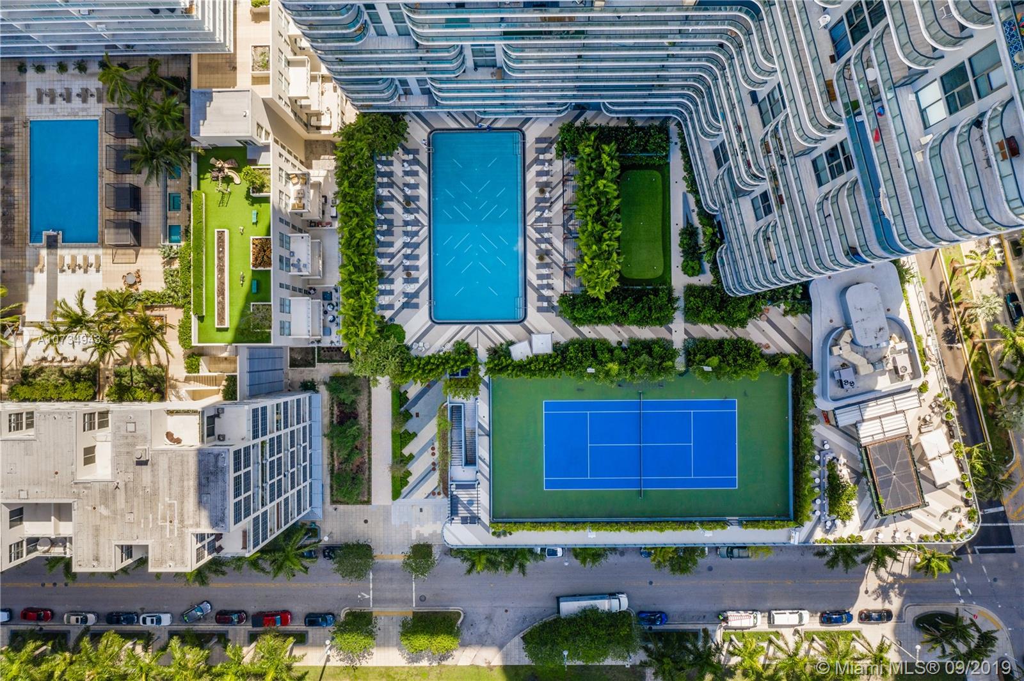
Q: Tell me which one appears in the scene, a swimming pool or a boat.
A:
swimming pool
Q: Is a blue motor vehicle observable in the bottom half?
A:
Yes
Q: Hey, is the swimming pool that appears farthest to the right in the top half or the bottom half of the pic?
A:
top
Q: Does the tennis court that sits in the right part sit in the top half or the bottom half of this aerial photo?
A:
bottom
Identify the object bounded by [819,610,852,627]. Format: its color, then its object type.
blue car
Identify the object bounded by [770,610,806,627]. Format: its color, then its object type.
white car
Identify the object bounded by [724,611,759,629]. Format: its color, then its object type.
white vehicle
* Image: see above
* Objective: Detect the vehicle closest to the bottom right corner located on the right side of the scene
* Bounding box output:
[858,608,892,624]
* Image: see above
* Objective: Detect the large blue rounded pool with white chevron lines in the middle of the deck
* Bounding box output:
[429,128,529,324]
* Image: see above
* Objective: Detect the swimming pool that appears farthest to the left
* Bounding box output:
[27,117,101,246]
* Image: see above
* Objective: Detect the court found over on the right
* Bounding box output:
[491,374,801,528]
